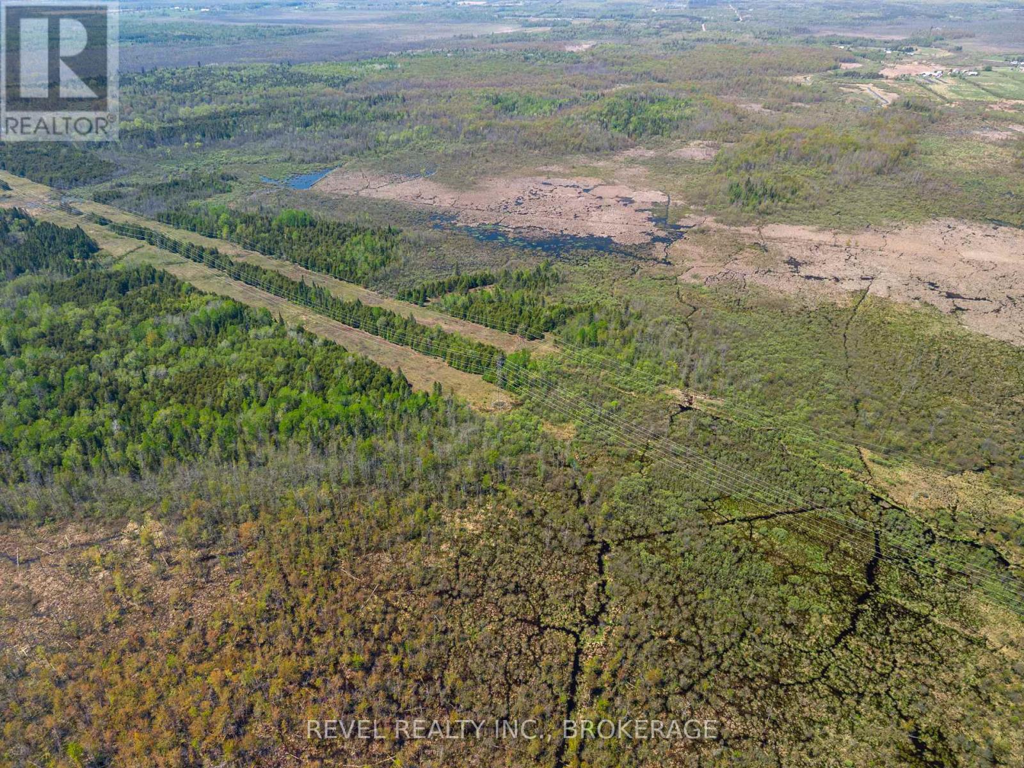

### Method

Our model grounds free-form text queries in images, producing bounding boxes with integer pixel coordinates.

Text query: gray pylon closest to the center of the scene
[488,354,509,409]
